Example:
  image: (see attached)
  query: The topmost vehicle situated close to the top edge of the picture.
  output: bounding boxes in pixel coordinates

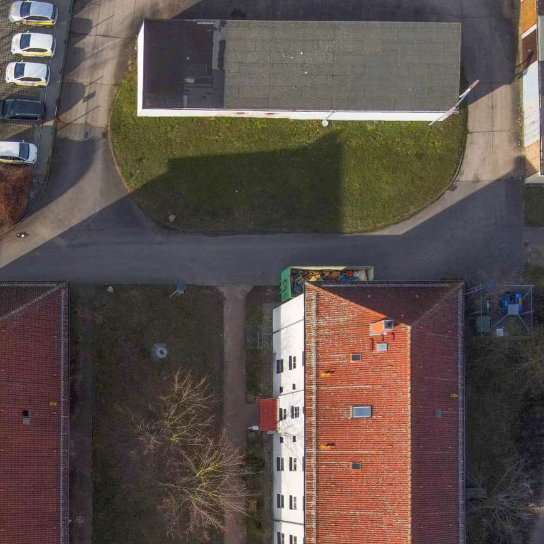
[11,0,54,28]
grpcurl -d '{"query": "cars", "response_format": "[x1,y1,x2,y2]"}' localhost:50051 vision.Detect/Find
[5,60,49,88]
[11,31,55,60]
[11,0,54,28]
[0,96,45,126]
[0,139,36,163]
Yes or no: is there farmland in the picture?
No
